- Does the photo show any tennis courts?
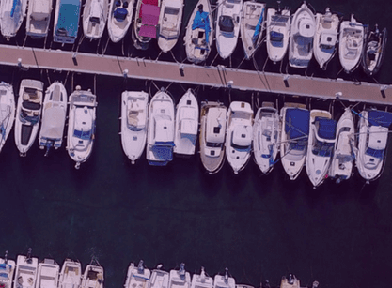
No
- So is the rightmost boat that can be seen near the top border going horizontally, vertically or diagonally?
vertically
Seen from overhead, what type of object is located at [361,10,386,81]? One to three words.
boat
